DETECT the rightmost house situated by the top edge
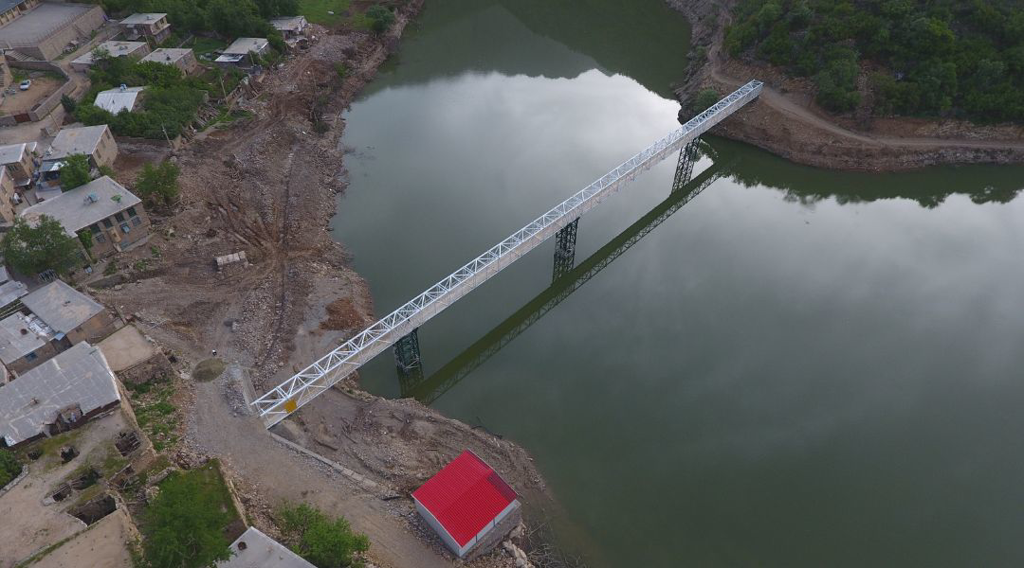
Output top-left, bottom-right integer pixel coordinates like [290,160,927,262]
[268,15,306,44]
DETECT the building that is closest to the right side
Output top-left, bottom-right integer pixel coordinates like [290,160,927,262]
[411,449,526,565]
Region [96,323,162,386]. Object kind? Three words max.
shed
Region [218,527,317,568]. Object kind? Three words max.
house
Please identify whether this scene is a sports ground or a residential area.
residential area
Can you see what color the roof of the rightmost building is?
red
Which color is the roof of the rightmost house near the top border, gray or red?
gray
